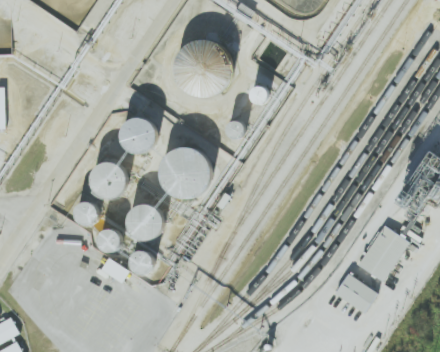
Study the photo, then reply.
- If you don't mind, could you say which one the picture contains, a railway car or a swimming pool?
railway car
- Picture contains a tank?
Yes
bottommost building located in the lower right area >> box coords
[338,274,379,312]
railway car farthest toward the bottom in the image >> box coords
[243,306,270,330]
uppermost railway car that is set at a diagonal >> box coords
[413,31,433,58]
